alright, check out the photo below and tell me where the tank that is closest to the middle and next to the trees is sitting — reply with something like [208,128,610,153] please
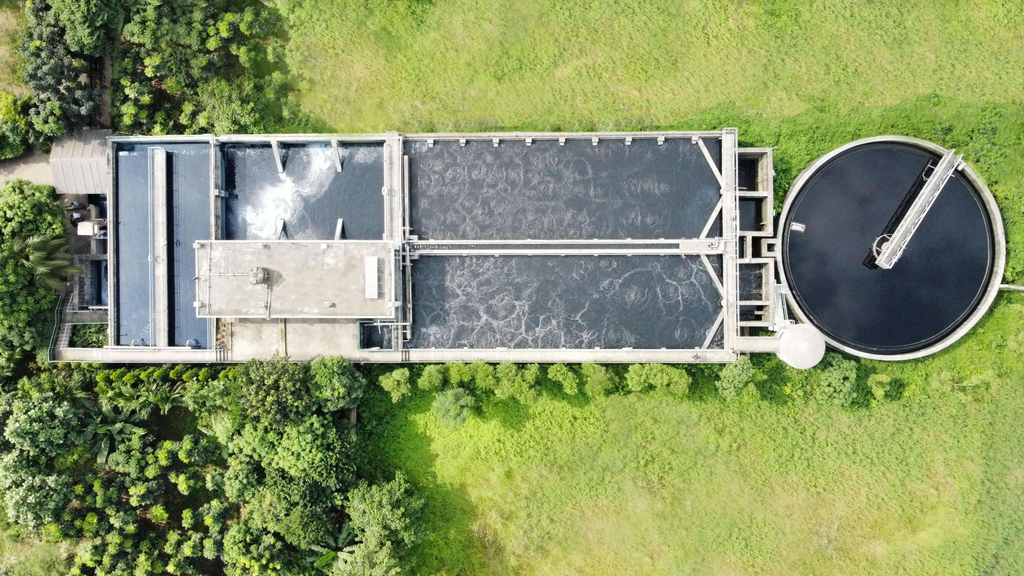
[357,319,397,351]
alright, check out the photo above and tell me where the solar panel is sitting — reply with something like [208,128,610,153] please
[365,257,379,298]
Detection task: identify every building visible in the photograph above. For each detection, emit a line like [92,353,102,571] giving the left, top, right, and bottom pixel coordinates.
[48,130,116,194]
[193,240,402,318]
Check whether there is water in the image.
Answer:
Yes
